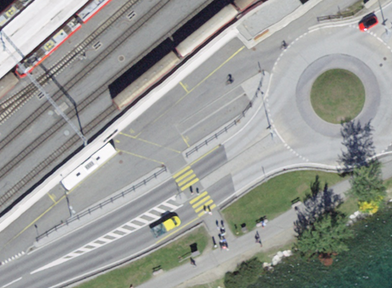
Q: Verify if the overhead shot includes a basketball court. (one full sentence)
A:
No, there's no basketball court here.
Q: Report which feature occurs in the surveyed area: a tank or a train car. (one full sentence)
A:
Visible in the photo is a train car.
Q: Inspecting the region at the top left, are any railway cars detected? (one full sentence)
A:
Yes, a railway car can be seen at the top left.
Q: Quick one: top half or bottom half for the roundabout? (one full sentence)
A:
The roundabout sits in the top half of the picture.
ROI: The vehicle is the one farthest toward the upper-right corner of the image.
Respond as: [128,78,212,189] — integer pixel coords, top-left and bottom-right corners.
[359,14,380,29]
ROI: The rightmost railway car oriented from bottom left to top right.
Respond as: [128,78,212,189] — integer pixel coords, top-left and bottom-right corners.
[175,2,239,56]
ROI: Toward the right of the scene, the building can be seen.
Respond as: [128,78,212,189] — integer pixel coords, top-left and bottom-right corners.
[238,0,316,45]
